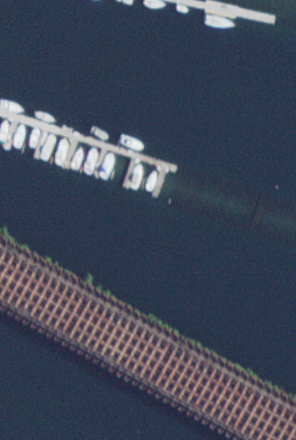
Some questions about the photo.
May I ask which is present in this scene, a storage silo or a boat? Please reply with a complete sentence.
There is a boat in the scene.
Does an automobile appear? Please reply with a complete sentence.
No, the picture doesn't show any automobile.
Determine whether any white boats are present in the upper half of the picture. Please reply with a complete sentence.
Yes, the scene does show a white boat in the upper half of the picture.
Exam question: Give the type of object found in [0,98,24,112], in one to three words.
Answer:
boat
